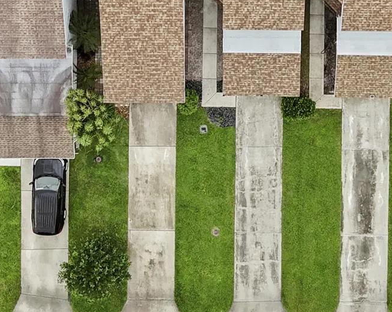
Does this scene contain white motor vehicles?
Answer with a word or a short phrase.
No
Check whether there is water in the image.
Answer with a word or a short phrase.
No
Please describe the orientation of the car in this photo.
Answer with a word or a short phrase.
up and down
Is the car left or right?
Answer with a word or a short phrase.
left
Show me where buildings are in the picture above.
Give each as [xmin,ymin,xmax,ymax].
[220,0,305,98]
[0,0,76,159]
[99,0,186,104]
[318,0,392,99]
